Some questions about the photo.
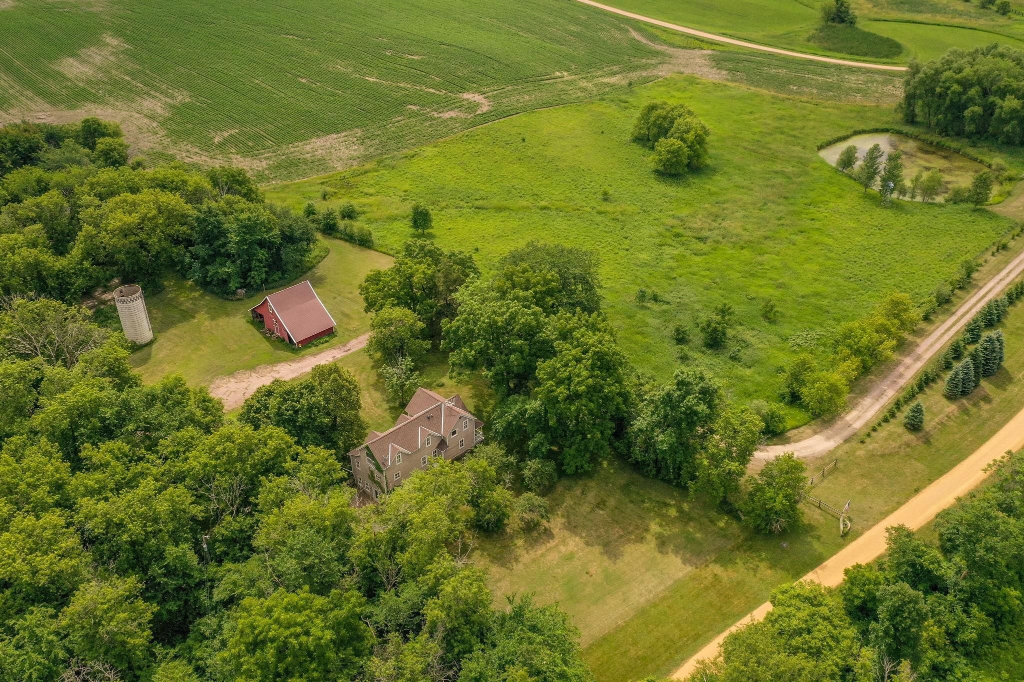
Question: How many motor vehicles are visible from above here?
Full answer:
The count of motor vehicles is 0.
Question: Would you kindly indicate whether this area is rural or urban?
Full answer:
It looks rural.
